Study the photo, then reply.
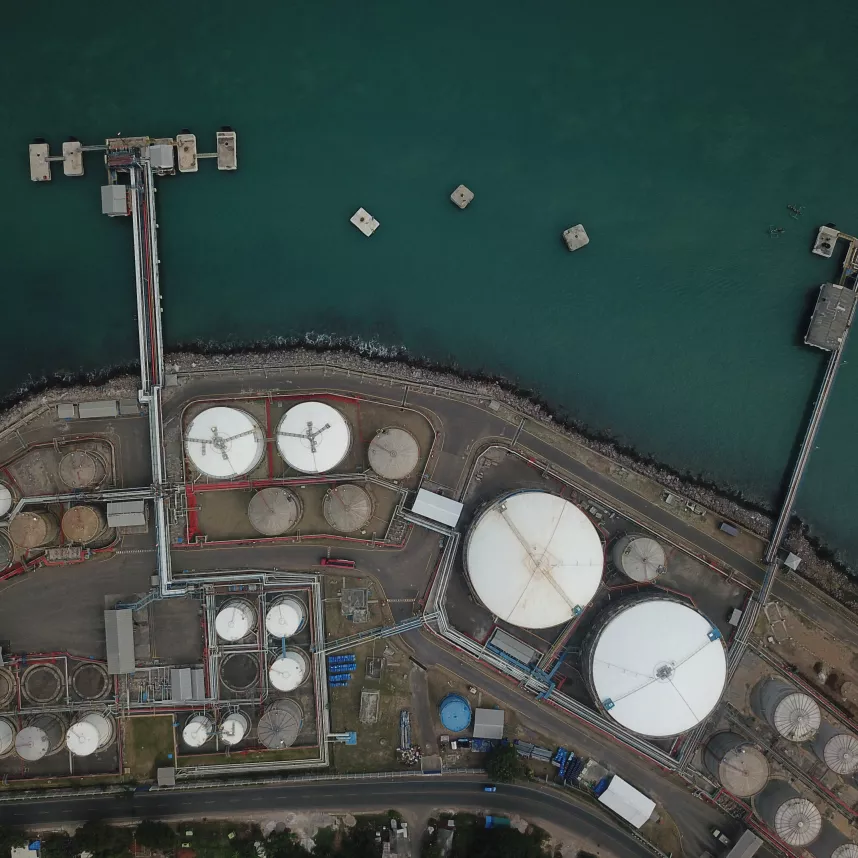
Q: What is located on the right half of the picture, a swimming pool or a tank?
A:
tank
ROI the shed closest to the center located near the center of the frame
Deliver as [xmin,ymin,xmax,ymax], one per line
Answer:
[412,488,463,527]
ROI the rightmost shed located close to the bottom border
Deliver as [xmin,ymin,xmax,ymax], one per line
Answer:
[717,824,763,858]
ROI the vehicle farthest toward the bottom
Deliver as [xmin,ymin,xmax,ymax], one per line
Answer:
[714,830,731,846]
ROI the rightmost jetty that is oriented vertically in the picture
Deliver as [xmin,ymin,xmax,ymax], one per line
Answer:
[766,240,858,565]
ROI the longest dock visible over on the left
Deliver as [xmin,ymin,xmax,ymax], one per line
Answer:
[104,136,177,392]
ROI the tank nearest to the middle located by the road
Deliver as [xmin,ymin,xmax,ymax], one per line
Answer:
[366,424,423,483]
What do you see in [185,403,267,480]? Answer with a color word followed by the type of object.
white storage tank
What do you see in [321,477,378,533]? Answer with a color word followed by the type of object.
gray storage tank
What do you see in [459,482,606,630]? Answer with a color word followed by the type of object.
white storage tank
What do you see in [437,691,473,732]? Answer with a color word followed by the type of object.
blue storage tank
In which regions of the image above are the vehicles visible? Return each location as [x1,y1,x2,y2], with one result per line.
[483,786,496,793]
[714,830,731,846]
[319,558,355,570]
